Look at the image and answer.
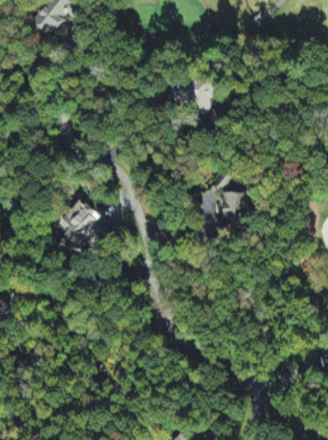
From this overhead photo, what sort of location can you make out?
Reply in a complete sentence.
It's a forest.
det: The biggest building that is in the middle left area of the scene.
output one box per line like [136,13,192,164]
[56,199,102,240]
